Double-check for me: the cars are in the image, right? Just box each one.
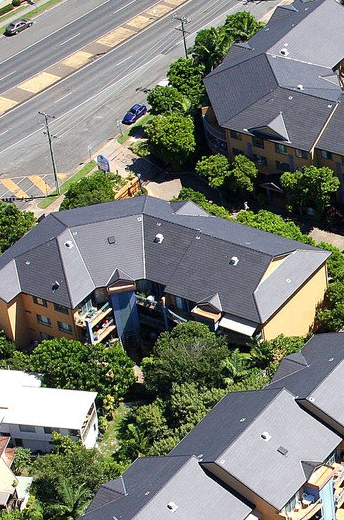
[121,106,146,122]
[153,78,171,90]
[5,20,30,34]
